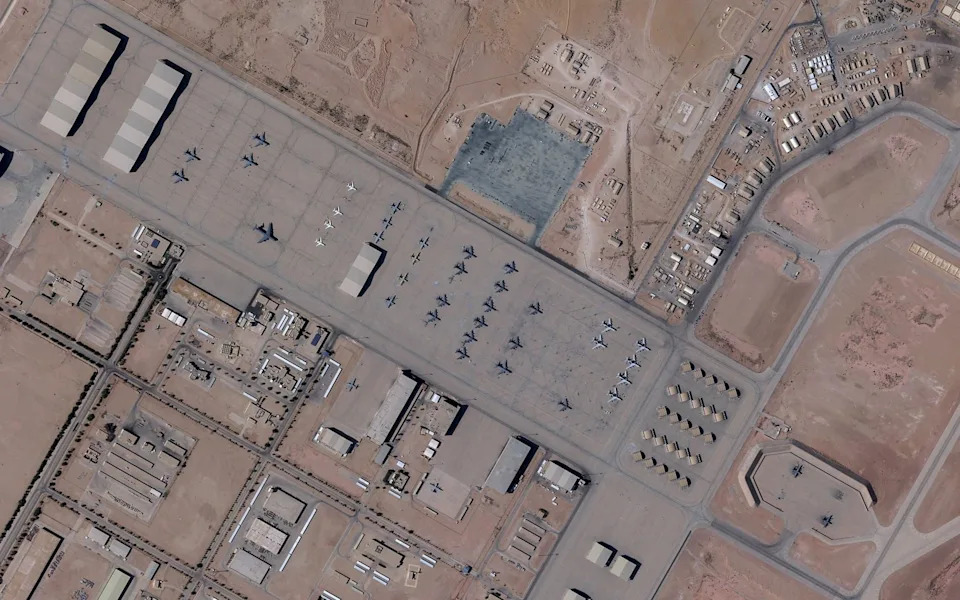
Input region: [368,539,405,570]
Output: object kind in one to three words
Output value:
building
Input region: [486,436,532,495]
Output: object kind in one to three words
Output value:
hangar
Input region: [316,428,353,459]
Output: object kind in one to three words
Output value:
hangar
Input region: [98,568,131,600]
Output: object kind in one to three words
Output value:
building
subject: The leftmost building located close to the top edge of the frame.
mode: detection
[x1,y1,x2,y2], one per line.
[40,24,121,137]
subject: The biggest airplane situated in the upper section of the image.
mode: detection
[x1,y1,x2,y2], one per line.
[253,222,277,242]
